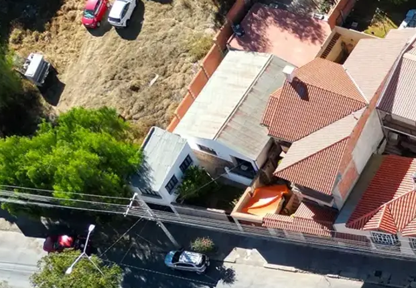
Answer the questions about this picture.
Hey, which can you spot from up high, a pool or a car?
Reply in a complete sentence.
It is a car that can be seen here.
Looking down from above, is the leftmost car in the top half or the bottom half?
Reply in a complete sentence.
You can find the leftmost car in the top half.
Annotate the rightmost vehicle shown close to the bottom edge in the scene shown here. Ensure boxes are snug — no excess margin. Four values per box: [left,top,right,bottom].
[164,250,211,275]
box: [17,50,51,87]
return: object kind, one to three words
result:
car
